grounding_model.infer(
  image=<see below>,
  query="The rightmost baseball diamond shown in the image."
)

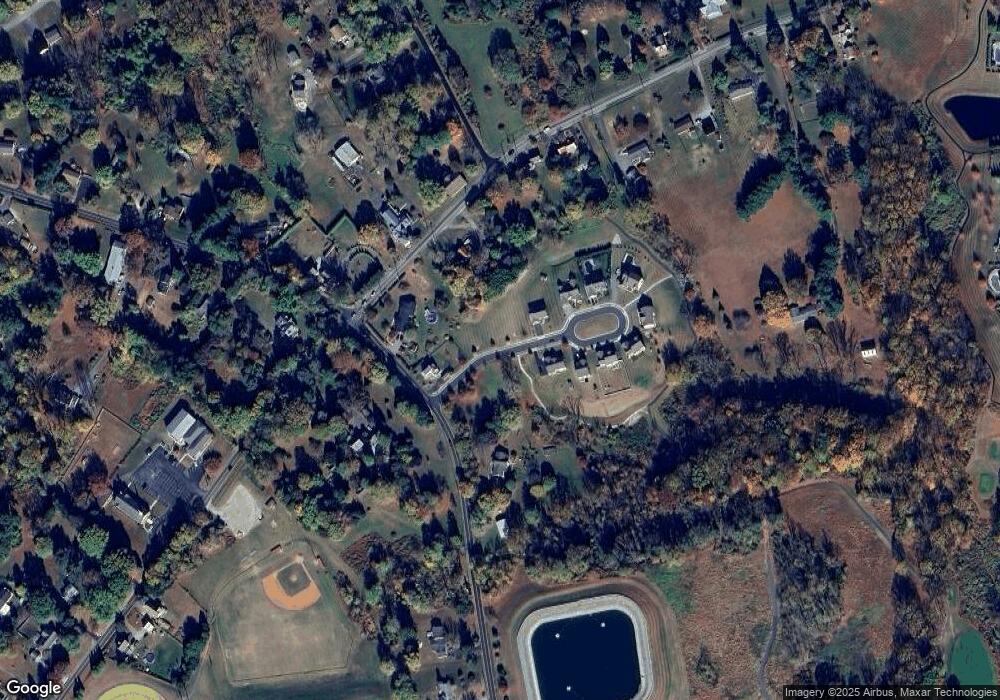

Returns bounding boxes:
[217,539,351,681]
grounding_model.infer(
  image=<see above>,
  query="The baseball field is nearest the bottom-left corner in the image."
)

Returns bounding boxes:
[95,679,167,700]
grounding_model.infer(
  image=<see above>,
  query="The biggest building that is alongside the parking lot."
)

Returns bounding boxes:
[164,409,214,456]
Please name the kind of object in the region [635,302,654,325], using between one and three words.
house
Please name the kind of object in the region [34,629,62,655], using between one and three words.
house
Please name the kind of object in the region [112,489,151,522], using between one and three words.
building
